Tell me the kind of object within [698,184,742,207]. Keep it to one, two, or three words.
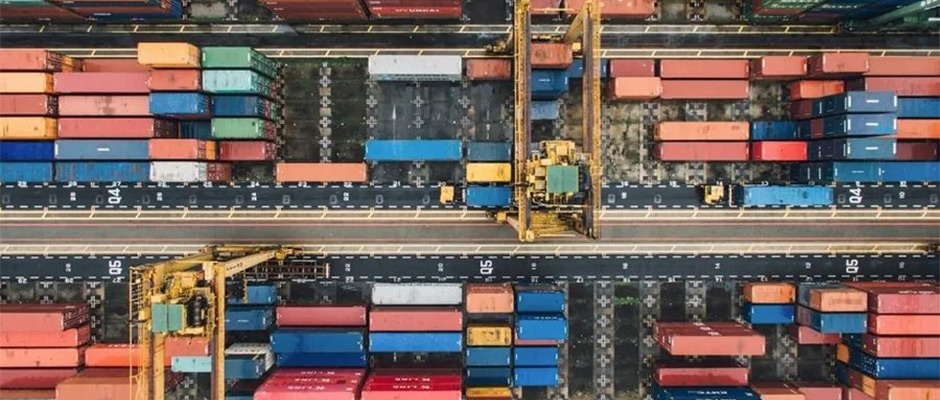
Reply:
truck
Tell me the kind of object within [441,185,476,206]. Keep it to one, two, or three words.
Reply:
truck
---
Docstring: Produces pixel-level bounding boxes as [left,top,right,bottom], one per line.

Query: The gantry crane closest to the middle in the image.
[490,0,602,245]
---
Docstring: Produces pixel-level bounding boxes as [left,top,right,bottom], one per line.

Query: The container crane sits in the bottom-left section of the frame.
[126,243,304,400]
